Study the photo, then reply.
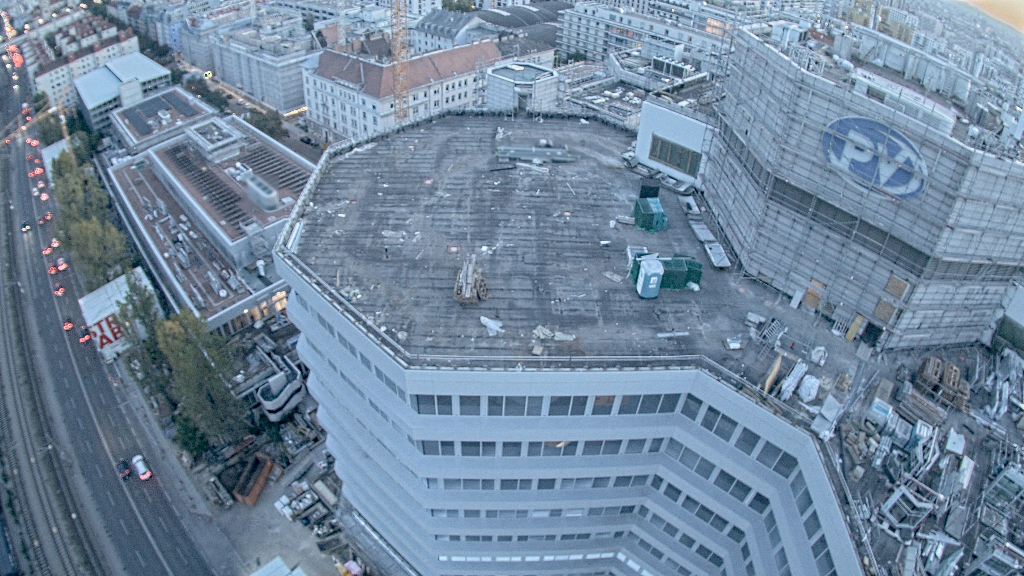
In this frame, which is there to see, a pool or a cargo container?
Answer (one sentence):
This aerial view contains a cargo container.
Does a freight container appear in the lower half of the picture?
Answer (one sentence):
Yes, there is a freight container in the lower half of the picture.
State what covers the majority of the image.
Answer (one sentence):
The scene is dominated by buildings.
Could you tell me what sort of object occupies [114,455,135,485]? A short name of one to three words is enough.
car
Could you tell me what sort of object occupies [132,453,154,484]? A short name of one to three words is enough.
car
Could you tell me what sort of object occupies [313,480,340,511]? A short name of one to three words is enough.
shipping container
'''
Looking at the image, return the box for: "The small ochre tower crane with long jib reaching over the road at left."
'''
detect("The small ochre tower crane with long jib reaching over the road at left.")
[0,85,78,147]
